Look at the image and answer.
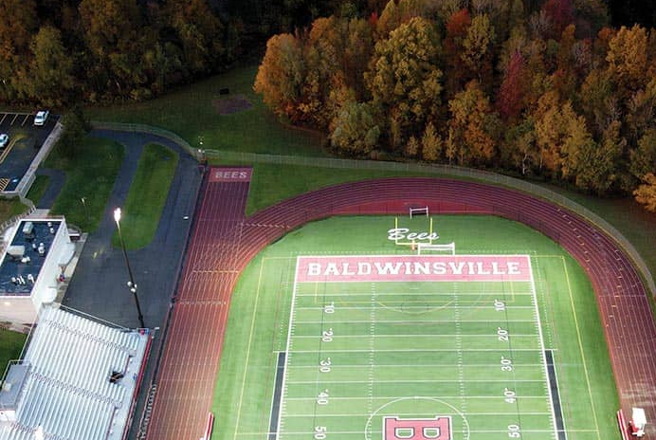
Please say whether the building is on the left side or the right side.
left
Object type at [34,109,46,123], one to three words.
vehicle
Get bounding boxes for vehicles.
[0,133,9,145]
[34,109,46,123]
[631,409,646,433]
